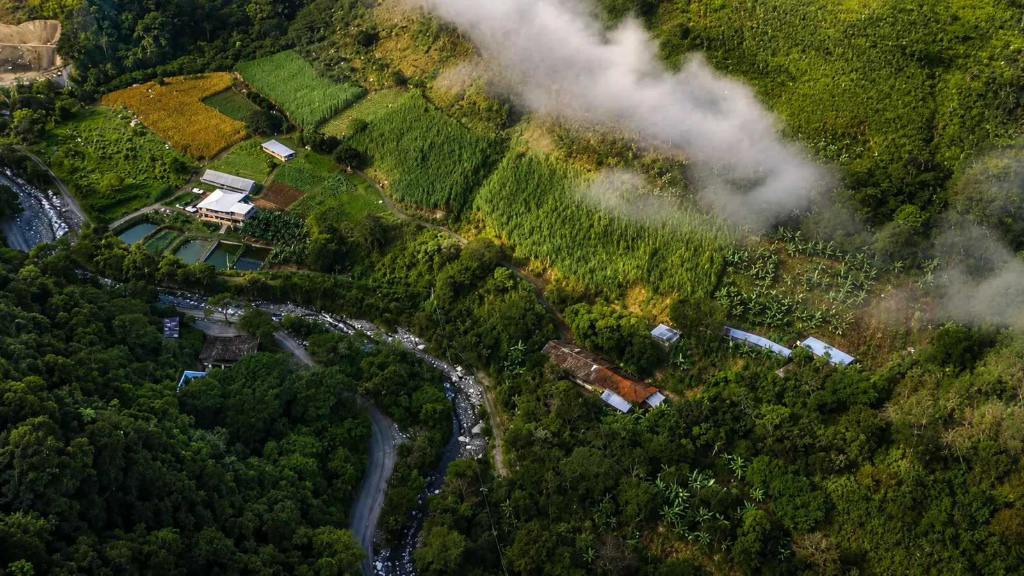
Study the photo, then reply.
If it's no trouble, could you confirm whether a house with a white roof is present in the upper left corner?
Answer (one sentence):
Yes, the scene does show a house with a white roof in the upper left corner.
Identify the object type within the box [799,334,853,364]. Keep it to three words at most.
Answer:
shed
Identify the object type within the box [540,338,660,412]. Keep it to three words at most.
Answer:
house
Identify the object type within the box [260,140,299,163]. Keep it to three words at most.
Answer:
house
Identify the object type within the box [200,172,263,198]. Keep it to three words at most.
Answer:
shed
